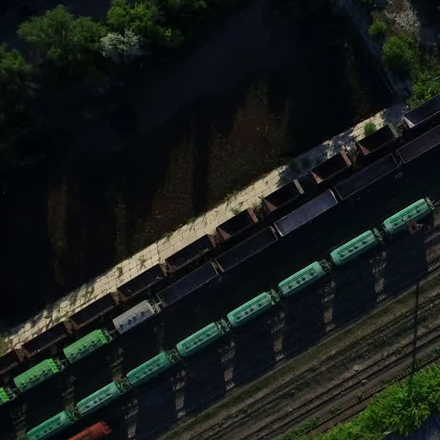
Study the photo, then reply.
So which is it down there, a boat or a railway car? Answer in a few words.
railway car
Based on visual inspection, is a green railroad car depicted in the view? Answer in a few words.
Yes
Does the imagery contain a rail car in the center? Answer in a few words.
Yes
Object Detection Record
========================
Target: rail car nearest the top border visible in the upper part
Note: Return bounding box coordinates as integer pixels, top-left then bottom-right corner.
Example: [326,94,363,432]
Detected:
[400,93,440,132]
